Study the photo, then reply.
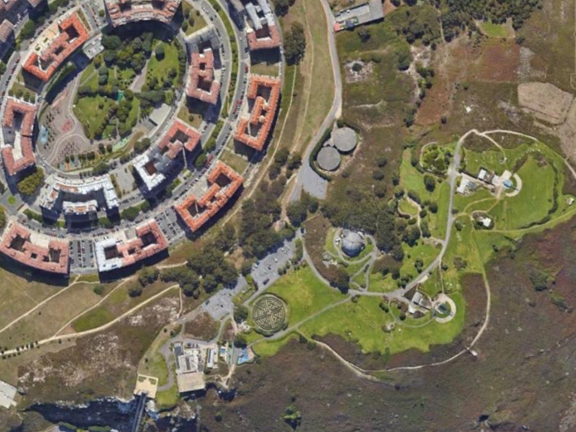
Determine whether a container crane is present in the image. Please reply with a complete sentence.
No, the photo shows no container crane.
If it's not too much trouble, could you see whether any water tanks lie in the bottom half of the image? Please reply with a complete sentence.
No, I see no water tank in the bottom half of the image.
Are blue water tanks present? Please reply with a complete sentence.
No, I can't see a single blue water tank in this photo.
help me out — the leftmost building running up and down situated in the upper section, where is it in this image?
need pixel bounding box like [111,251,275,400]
[1,96,38,175]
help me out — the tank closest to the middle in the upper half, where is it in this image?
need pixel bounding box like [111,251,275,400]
[315,147,341,170]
